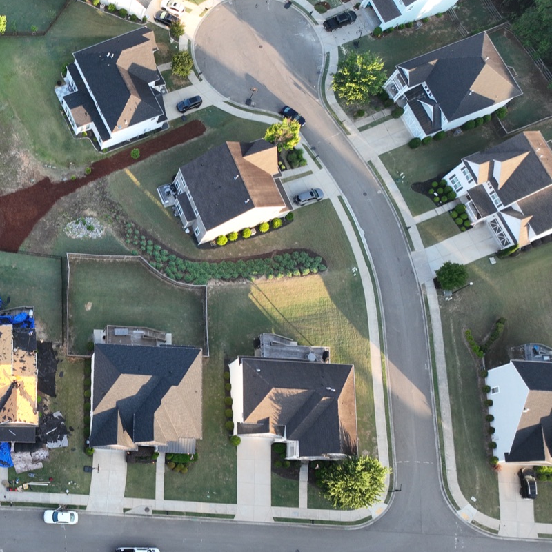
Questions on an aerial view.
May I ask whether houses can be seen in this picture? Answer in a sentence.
Yes, the frame does contain a house.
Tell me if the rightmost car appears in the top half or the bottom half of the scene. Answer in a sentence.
You can find the rightmost car in the bottom half.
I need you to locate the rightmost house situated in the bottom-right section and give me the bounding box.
[481,341,552,464]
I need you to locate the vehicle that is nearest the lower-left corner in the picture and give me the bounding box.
[42,509,79,525]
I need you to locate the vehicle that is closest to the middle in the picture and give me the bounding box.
[289,187,325,208]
